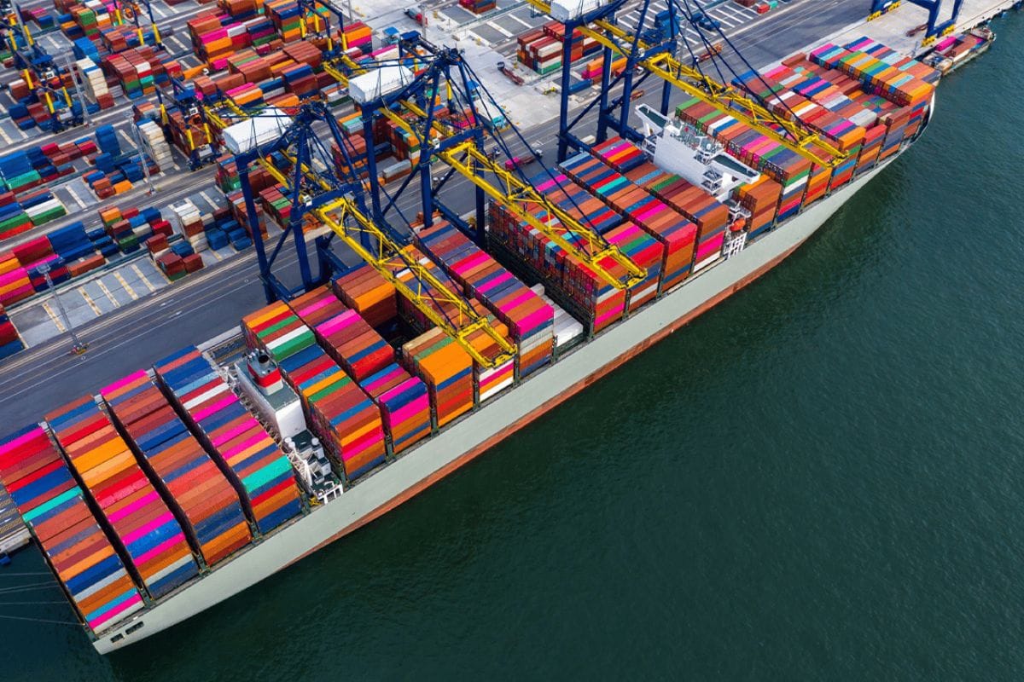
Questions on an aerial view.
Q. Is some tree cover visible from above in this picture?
No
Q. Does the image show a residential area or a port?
port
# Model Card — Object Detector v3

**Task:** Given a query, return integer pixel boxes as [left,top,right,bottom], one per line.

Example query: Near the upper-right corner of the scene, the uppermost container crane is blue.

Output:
[863,0,963,46]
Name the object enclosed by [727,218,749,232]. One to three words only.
boat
